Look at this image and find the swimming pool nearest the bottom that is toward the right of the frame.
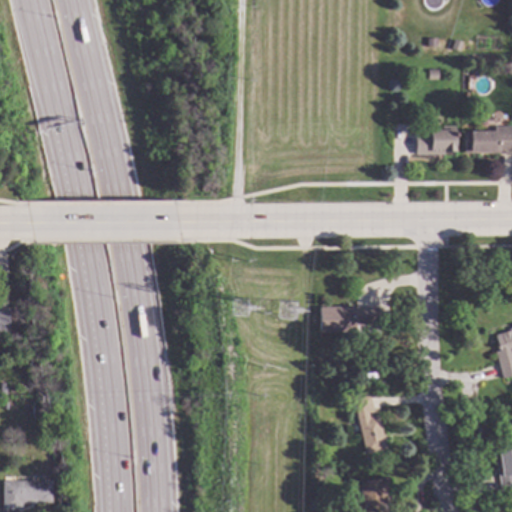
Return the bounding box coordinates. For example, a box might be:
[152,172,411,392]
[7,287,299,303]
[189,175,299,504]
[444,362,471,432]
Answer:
[466,74,493,94]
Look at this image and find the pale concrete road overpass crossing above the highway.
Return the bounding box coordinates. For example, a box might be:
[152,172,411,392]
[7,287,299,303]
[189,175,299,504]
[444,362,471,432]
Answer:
[28,198,182,244]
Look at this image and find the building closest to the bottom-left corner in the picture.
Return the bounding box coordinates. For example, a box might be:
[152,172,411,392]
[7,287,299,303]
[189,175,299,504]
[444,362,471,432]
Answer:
[4,479,55,508]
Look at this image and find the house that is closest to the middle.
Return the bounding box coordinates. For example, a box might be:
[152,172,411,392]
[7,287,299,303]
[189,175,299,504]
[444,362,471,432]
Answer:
[318,307,370,335]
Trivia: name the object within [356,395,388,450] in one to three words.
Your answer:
house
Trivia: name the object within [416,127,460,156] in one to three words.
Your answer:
house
